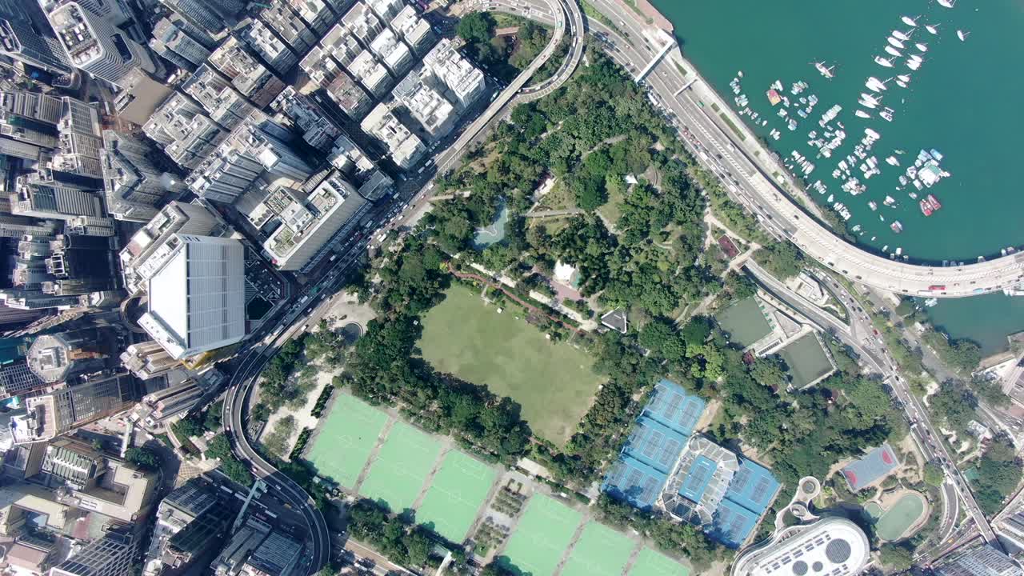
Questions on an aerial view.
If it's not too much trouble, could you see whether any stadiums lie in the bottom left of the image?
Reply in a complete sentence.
No, the scene shows no stadium in the bottom left of the image.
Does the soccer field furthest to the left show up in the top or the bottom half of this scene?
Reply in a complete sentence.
Seen from above, the soccer field furthest to the left lies in the bottom half of the view.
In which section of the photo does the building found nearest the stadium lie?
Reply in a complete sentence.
The building found nearest the stadium is located in the bottom right region of the scene.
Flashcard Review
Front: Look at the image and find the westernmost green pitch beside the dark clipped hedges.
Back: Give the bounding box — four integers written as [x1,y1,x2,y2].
[305,392,388,489]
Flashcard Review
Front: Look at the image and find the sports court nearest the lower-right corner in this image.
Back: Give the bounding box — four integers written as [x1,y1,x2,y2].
[840,445,899,490]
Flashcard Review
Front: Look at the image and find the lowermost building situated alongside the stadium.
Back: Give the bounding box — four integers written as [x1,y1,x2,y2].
[726,511,871,576]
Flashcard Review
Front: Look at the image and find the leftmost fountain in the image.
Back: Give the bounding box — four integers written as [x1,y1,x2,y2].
[342,318,365,341]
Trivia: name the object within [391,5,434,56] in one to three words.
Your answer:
building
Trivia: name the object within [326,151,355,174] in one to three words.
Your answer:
building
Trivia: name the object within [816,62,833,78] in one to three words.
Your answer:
boat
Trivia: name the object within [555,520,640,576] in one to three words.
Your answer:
soccer field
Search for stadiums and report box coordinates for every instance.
[660,433,740,526]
